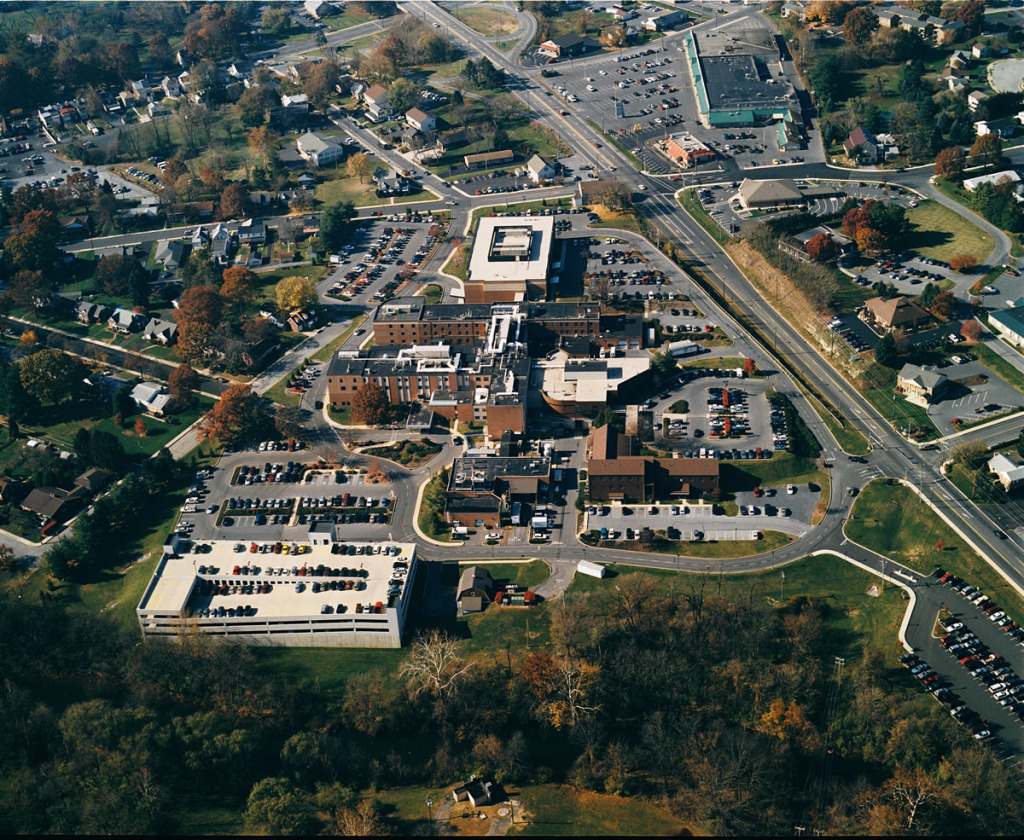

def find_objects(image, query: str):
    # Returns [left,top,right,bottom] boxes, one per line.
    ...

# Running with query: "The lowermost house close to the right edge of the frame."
[982,457,1024,497]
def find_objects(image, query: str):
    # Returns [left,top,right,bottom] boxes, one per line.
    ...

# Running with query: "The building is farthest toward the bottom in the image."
[452,774,491,808]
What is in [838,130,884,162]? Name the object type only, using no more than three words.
house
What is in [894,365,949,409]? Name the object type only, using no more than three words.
building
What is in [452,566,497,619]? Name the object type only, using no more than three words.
barn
